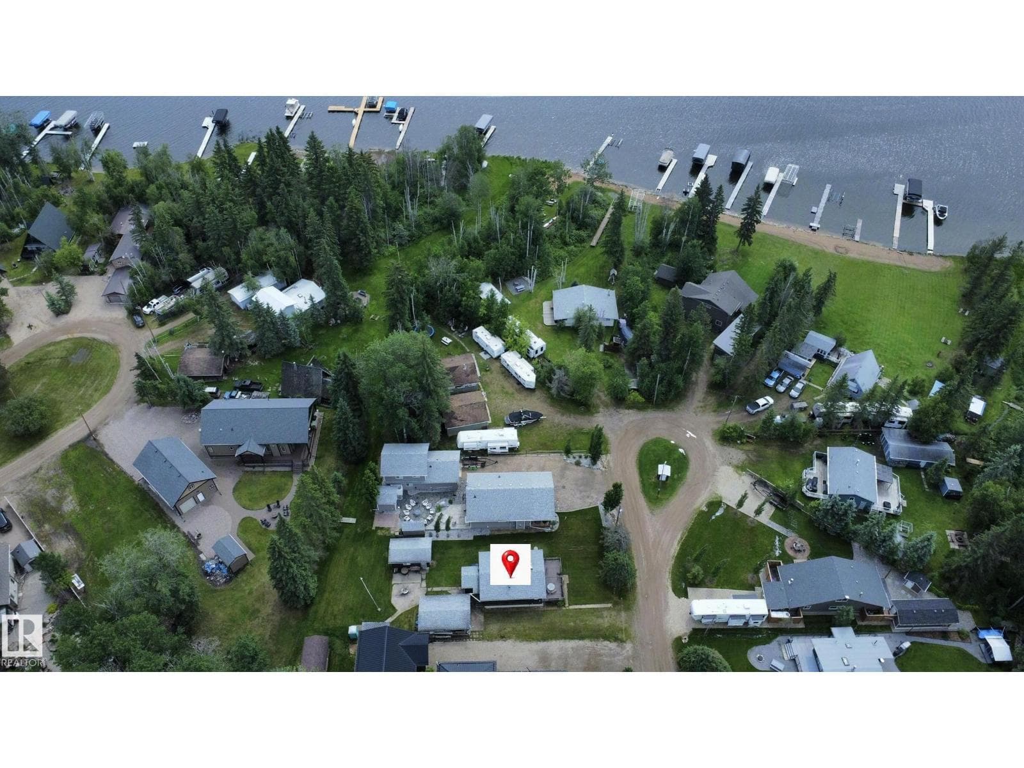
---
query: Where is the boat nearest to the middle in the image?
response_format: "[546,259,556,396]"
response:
[502,406,542,423]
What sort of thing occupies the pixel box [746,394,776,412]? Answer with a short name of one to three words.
vehicle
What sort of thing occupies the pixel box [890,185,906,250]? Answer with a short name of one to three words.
pier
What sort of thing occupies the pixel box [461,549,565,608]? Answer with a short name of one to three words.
house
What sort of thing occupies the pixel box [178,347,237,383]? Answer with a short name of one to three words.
building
